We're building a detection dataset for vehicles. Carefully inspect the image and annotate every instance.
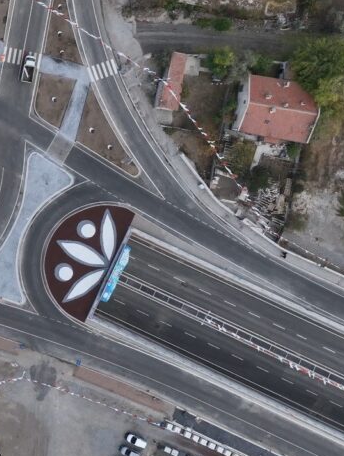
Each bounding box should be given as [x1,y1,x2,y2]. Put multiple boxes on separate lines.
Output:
[120,445,141,456]
[179,449,191,456]
[21,53,37,83]
[126,433,149,450]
